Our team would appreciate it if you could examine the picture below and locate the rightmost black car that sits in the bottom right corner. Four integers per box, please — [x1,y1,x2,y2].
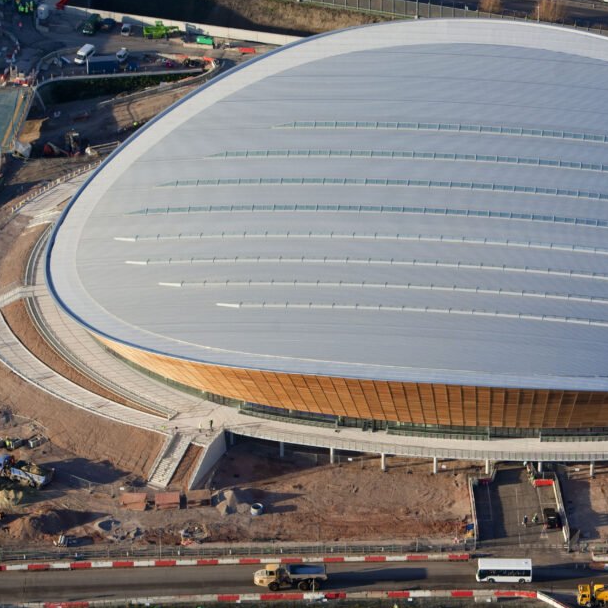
[543,510,558,533]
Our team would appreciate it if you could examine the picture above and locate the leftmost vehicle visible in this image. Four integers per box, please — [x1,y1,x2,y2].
[0,456,52,491]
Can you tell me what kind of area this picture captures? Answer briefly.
sports ground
